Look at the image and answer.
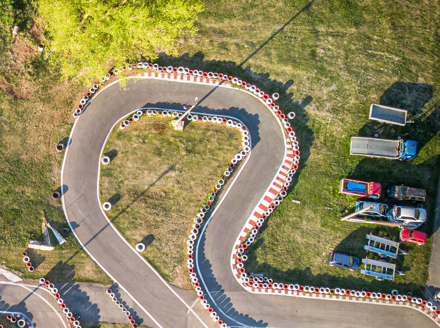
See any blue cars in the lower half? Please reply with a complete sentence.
Yes, I can see a blue car in the lower half.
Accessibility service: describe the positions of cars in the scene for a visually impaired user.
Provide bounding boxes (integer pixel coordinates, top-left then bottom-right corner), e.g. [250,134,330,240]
[328,253,359,270]
[398,228,428,244]
[387,185,425,202]
[429,287,440,306]
[355,201,388,217]
[392,205,426,221]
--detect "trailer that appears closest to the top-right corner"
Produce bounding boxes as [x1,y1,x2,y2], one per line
[369,103,411,126]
